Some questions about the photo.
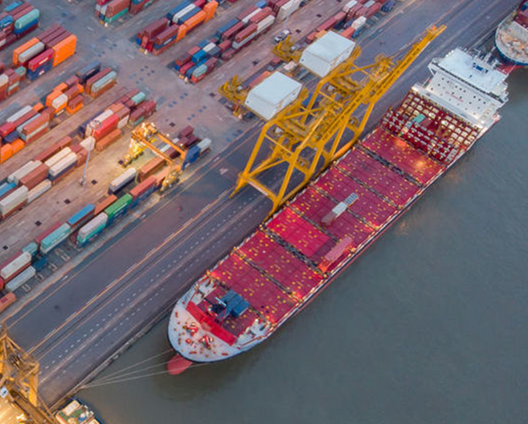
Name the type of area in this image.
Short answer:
port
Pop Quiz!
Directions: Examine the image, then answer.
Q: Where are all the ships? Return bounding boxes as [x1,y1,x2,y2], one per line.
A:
[52,400,100,424]
[160,45,520,379]
[491,7,528,79]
